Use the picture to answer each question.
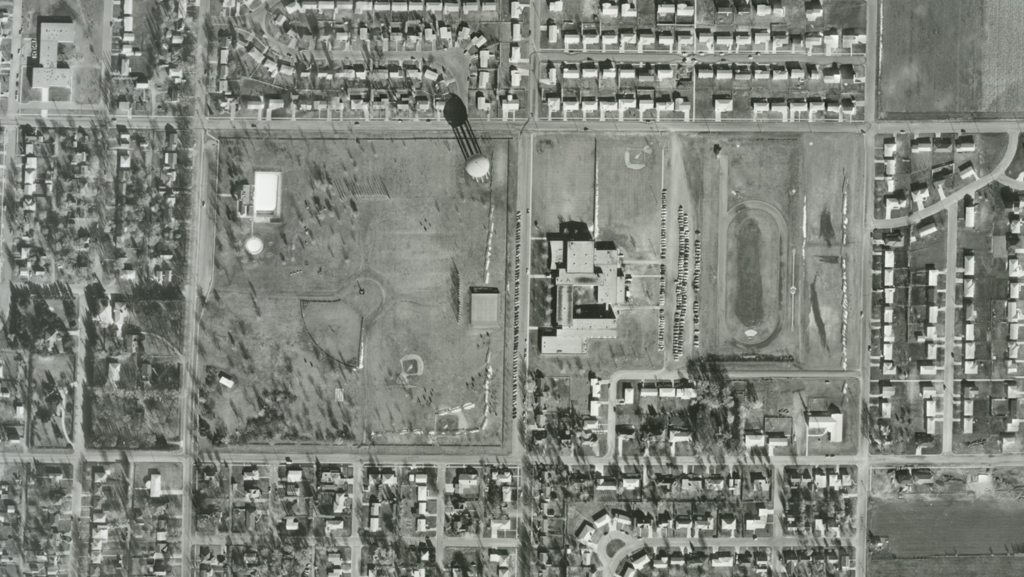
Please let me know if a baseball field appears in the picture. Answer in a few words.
Yes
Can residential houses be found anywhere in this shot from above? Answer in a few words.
Yes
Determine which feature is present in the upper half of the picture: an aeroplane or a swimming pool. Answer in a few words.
swimming pool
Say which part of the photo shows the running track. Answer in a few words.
right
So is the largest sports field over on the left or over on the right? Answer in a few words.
right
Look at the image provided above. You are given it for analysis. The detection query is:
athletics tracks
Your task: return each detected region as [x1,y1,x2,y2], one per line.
[718,155,787,351]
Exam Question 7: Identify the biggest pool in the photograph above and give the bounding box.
[254,172,281,222]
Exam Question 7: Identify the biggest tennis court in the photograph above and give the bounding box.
[471,293,500,327]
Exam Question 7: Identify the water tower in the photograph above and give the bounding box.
[466,153,490,183]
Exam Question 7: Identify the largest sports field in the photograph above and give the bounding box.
[697,132,864,371]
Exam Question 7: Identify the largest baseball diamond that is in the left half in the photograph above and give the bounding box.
[301,301,362,367]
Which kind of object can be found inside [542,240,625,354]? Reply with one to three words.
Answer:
building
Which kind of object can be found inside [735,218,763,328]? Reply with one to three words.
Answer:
sports field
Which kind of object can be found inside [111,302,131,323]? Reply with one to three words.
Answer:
house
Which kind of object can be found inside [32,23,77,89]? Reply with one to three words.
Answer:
building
